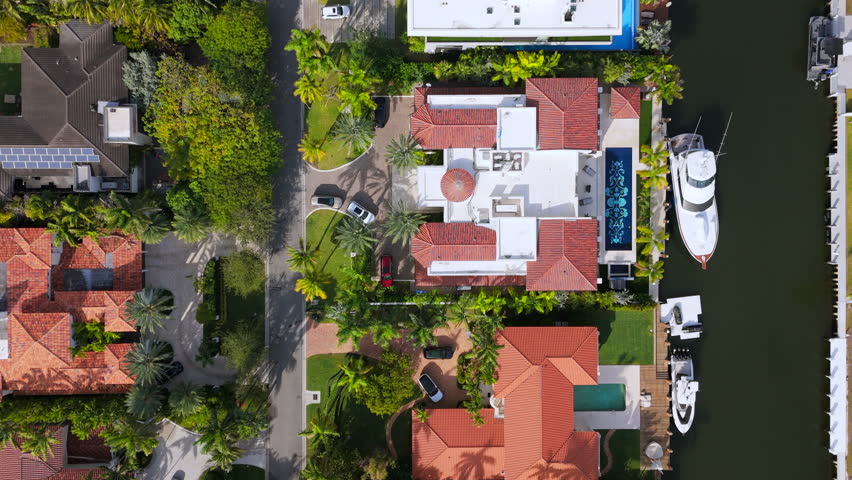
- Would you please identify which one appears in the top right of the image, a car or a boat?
boat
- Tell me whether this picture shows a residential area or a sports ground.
residential area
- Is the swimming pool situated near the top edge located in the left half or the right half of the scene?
right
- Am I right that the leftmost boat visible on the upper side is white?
Yes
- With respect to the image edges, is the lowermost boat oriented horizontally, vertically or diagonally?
vertically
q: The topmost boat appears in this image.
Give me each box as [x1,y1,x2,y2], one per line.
[805,15,842,91]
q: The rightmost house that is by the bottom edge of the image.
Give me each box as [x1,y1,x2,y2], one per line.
[412,328,600,480]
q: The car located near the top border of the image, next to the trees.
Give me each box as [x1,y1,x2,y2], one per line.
[320,5,349,21]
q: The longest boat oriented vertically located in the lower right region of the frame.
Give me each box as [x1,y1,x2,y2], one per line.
[672,352,699,433]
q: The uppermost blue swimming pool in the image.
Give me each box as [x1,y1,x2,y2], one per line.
[503,0,638,52]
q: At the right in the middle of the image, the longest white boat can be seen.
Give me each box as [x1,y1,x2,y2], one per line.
[671,112,726,265]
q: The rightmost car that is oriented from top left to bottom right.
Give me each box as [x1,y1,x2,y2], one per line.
[418,373,443,401]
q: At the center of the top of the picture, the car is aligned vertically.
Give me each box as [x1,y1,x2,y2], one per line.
[373,97,387,127]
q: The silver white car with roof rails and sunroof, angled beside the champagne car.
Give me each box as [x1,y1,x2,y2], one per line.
[347,200,375,225]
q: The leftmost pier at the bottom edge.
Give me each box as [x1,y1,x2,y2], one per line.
[640,304,668,468]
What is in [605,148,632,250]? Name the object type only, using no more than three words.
swimming pool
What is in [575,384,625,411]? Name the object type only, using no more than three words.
swimming pool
